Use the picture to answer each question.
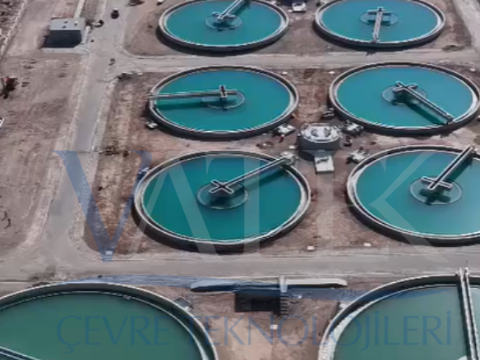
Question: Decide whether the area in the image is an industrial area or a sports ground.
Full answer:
What you see here is an industrial area.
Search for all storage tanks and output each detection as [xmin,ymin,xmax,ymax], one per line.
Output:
[346,146,480,247]
[317,274,480,360]
[0,283,216,360]
[159,0,288,52]
[328,61,480,136]
[134,150,310,252]
[148,65,298,140]
[315,0,445,50]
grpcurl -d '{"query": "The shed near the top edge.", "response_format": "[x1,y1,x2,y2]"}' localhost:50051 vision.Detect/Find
[43,18,91,47]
